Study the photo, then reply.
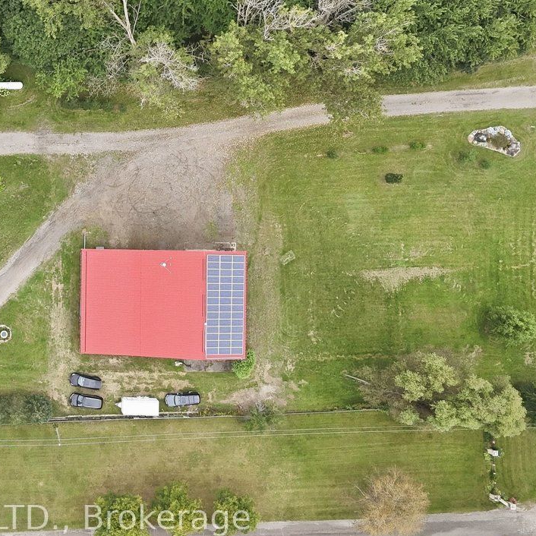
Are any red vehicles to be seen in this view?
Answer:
No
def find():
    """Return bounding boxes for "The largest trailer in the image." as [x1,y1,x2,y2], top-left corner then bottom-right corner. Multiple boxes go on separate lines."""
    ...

[113,395,159,417]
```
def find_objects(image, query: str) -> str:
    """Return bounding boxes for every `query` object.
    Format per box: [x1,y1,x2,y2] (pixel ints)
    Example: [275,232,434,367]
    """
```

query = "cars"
[166,393,202,408]
[70,394,104,410]
[69,374,103,391]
